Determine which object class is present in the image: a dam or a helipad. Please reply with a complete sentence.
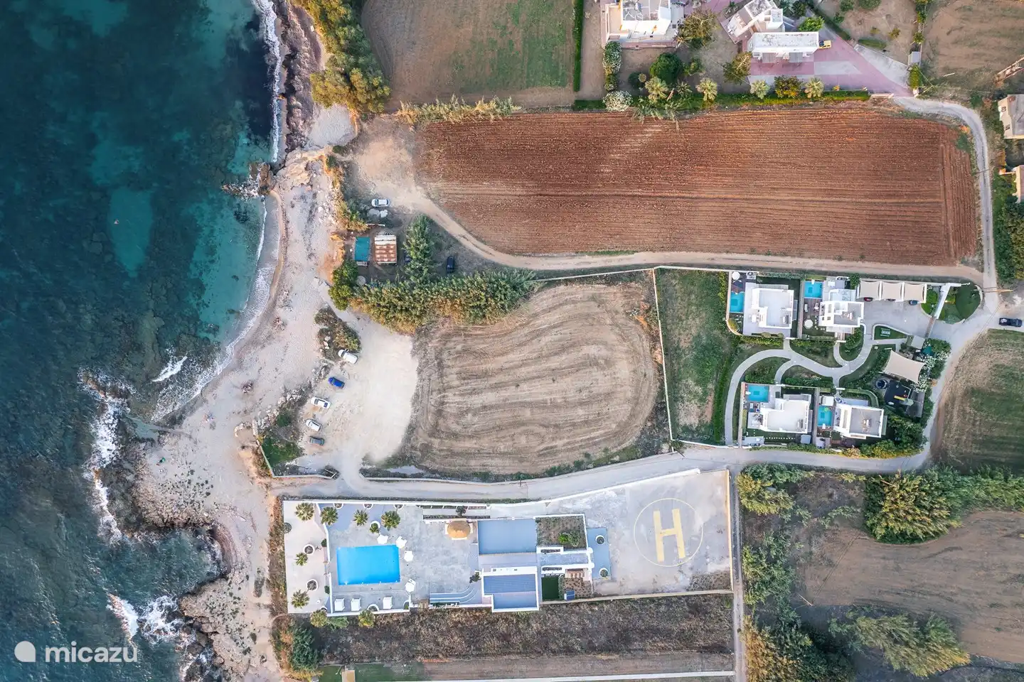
It is a helipad that can be seen here.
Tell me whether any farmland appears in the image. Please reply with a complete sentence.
Yes, there is farmland in the image.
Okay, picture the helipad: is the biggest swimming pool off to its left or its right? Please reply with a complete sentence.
The helipad has the biggest swimming pool on its left side.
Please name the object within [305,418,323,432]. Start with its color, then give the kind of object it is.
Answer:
white car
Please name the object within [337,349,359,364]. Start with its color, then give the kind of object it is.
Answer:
white vehicle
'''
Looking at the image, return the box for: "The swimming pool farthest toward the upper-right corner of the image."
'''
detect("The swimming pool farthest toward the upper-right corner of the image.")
[804,280,824,299]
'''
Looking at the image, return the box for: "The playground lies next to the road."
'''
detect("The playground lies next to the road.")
[872,376,925,418]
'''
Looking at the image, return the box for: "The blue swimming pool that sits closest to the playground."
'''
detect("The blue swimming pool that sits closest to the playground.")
[817,404,833,428]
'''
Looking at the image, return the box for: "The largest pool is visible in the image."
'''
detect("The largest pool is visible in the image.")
[335,543,402,588]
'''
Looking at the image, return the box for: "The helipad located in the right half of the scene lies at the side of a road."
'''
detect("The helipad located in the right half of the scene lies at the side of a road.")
[588,471,729,597]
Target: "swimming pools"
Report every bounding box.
[335,543,402,588]
[729,290,746,314]
[746,384,770,404]
[804,280,824,299]
[817,404,833,428]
